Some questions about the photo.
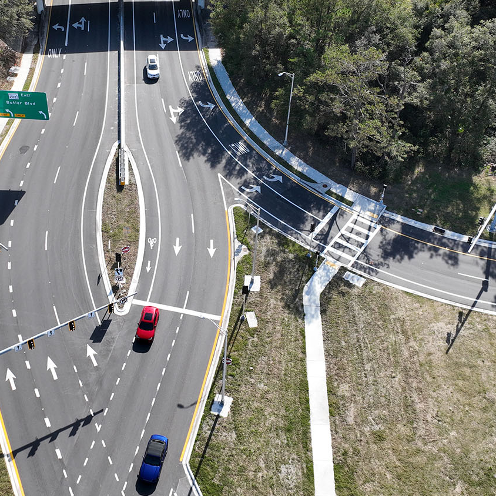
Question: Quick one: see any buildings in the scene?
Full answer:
No, no building can be seen from above.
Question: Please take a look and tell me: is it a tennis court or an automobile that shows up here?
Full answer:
There is an automobile in the scene.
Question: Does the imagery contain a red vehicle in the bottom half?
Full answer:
Yes, a red vehicle appears in the bottom half.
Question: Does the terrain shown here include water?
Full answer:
No, the picture contains no water.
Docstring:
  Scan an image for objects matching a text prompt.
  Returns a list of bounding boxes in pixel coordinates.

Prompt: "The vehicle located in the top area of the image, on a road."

[144,56,161,80]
